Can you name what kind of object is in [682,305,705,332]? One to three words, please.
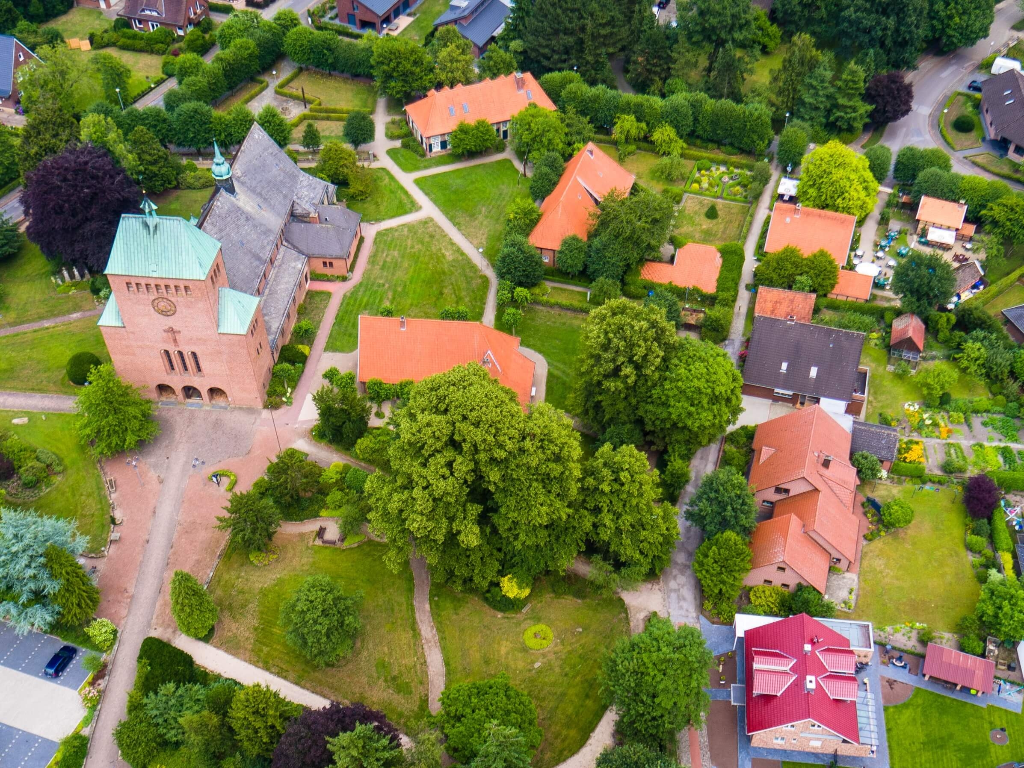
shed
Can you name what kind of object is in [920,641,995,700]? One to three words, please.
building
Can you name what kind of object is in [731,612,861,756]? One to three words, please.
house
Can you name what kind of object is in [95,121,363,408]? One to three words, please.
church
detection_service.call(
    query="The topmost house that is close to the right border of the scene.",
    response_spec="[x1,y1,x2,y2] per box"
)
[980,68,1024,152]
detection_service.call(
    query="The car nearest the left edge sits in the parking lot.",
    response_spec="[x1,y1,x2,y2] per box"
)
[39,648,77,681]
